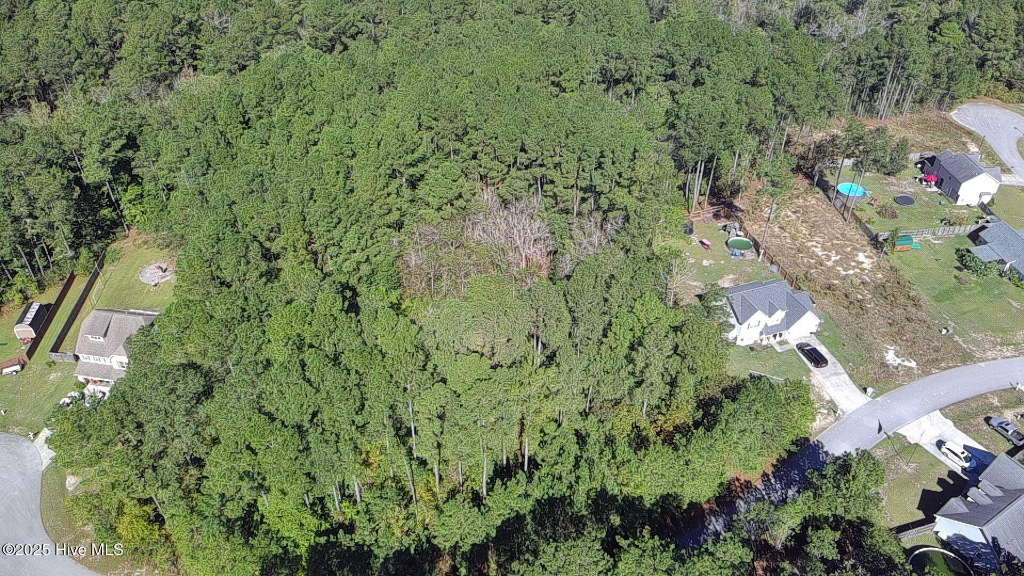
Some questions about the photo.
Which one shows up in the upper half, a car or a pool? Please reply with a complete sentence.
Looking in the upper half, you will find a pool.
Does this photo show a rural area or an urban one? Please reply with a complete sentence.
This place is rural.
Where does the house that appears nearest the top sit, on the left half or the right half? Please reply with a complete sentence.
The house that appears nearest the top appears in the right half of the scene.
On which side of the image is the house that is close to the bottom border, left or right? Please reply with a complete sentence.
The house that is close to the bottom border appears in the right half of the scene.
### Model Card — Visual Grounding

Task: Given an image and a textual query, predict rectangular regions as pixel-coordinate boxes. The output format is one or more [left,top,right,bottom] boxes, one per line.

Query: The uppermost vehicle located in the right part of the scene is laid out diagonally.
[797,343,832,369]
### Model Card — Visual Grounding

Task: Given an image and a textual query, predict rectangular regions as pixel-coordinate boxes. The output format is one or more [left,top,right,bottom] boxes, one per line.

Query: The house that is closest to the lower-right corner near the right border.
[926,445,1024,576]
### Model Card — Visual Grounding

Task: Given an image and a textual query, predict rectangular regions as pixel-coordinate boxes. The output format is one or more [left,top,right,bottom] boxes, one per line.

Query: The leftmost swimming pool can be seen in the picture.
[726,237,753,254]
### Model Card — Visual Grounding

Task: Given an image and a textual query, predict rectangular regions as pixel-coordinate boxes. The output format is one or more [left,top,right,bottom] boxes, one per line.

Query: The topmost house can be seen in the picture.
[926,148,1015,204]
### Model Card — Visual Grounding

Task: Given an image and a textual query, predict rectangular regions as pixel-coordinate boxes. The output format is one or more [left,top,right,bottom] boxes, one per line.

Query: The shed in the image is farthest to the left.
[4,301,47,341]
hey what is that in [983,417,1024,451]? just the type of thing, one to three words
truck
